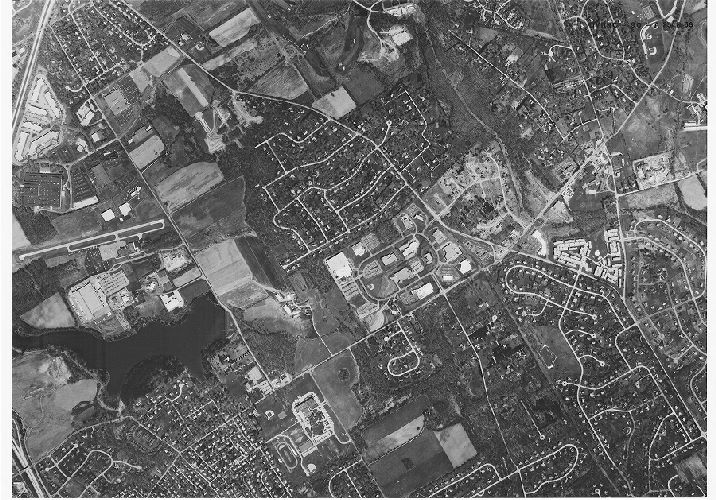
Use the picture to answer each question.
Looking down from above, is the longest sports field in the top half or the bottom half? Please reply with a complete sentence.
Seen from above, the longest sports field lies in the bottom half of the view.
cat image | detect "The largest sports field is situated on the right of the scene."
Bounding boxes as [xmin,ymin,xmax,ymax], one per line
[531,328,580,383]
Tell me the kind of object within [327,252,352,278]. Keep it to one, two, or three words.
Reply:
building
